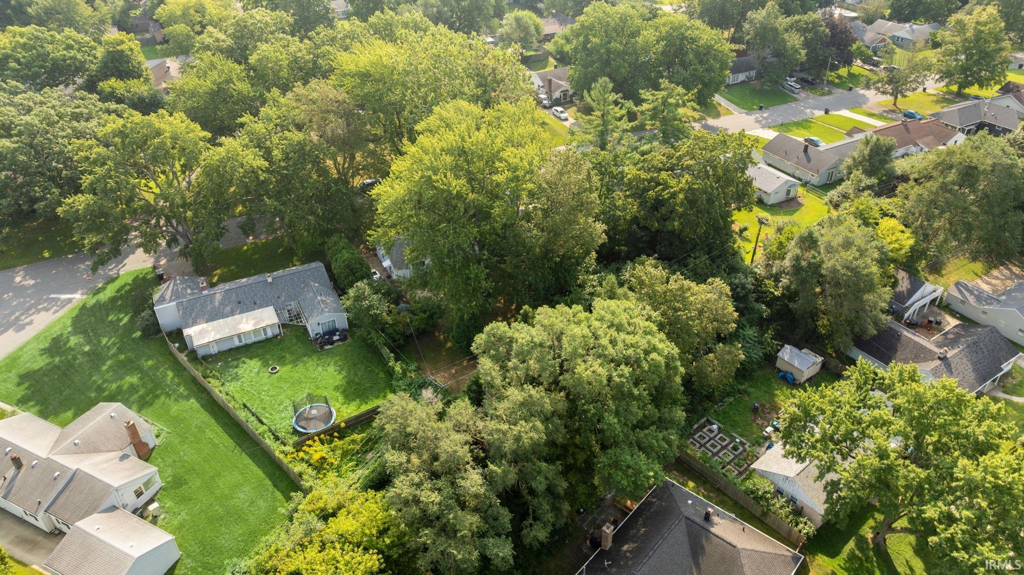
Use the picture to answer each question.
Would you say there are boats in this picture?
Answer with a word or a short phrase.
No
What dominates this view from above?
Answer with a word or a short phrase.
trees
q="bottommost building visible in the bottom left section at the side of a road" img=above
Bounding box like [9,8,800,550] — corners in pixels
[0,399,178,575]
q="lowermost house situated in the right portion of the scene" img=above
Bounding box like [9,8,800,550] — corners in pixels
[586,478,806,575]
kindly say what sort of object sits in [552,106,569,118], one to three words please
vehicle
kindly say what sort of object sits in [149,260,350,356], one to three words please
house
